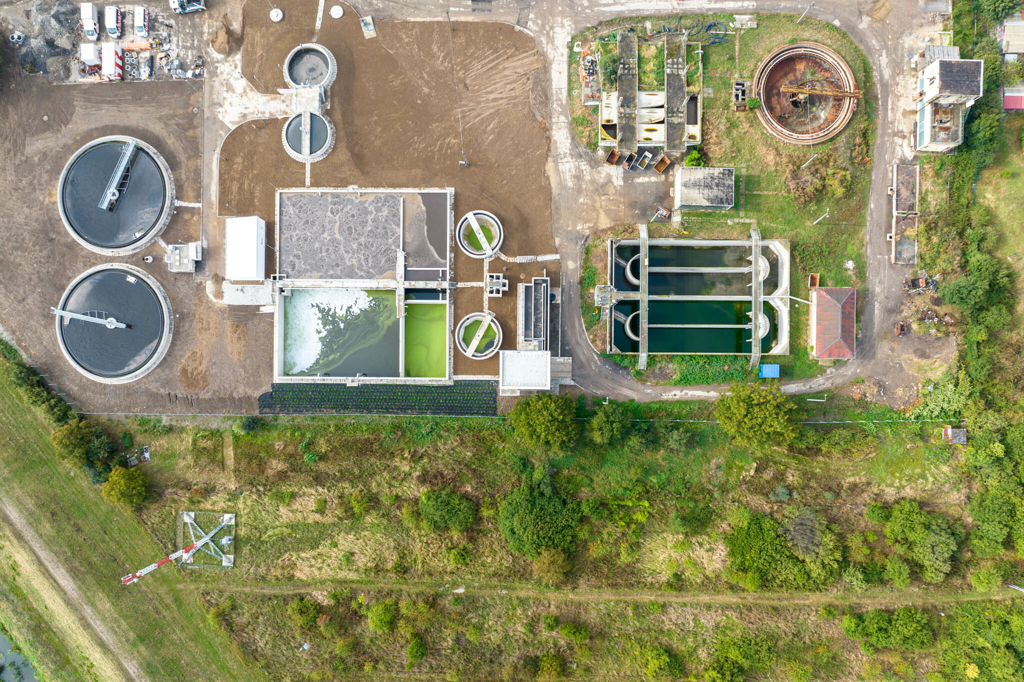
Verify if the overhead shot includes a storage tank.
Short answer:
Yes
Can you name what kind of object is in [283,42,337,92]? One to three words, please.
storage tank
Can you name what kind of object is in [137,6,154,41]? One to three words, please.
vehicle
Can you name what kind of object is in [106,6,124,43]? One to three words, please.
vehicle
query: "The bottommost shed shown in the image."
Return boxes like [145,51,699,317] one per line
[938,428,967,444]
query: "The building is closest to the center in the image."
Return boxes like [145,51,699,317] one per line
[500,351,550,395]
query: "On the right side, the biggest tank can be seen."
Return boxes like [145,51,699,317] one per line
[595,224,789,369]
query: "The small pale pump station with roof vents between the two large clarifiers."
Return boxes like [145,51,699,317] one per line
[165,242,204,273]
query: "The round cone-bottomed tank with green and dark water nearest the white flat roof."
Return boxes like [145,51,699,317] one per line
[455,308,502,360]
